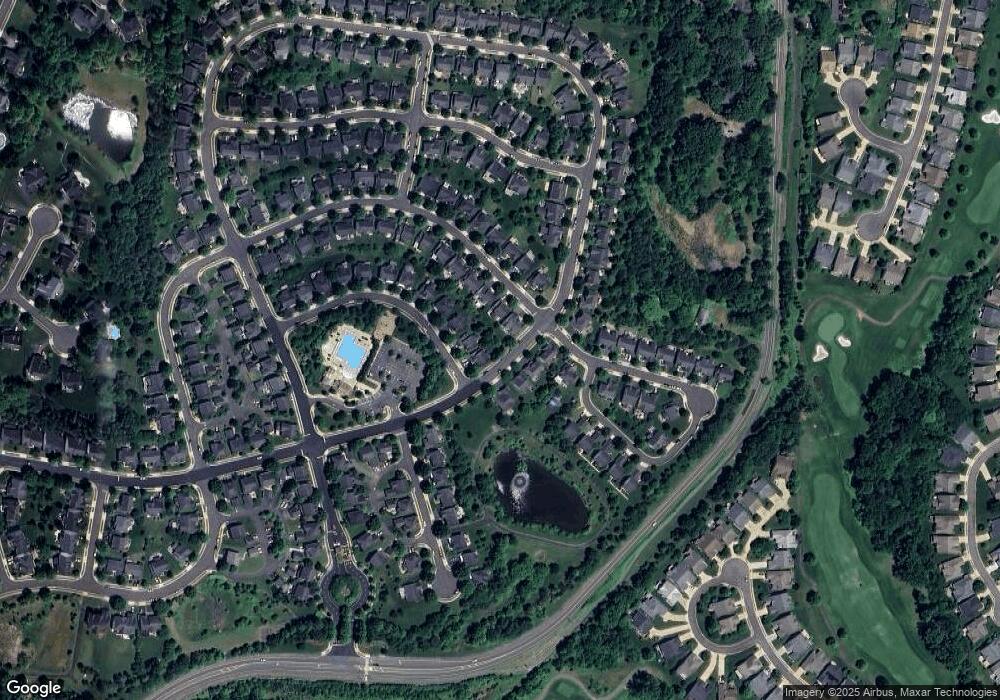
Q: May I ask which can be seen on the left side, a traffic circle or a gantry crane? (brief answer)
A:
traffic circle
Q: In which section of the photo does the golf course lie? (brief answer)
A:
right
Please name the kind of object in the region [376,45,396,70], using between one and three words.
house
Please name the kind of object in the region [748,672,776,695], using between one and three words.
house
